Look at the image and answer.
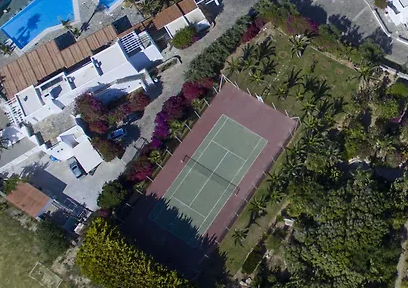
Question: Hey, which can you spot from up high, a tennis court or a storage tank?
tennis court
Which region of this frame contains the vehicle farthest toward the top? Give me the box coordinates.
[118,113,139,128]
